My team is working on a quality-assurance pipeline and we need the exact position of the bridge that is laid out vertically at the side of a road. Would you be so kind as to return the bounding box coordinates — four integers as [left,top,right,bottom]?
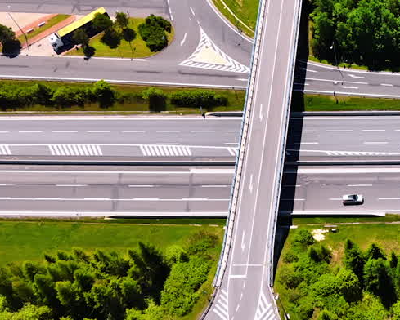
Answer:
[212,0,302,286]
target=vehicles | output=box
[344,195,362,204]
[47,11,109,54]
